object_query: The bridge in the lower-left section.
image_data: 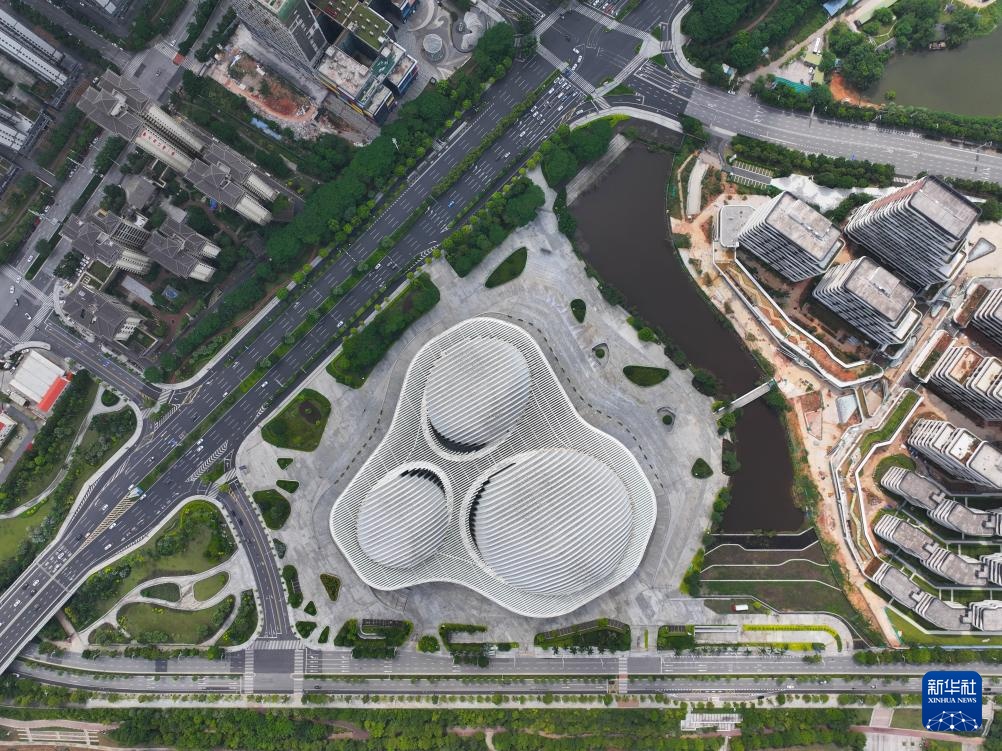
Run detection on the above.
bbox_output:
[0,562,69,673]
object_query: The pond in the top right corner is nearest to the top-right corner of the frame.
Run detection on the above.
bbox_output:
[865,24,1002,116]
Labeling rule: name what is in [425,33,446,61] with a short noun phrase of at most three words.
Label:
building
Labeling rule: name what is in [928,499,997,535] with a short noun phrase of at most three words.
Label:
house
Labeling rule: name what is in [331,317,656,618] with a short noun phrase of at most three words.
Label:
building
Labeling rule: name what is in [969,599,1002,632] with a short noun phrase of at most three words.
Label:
house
